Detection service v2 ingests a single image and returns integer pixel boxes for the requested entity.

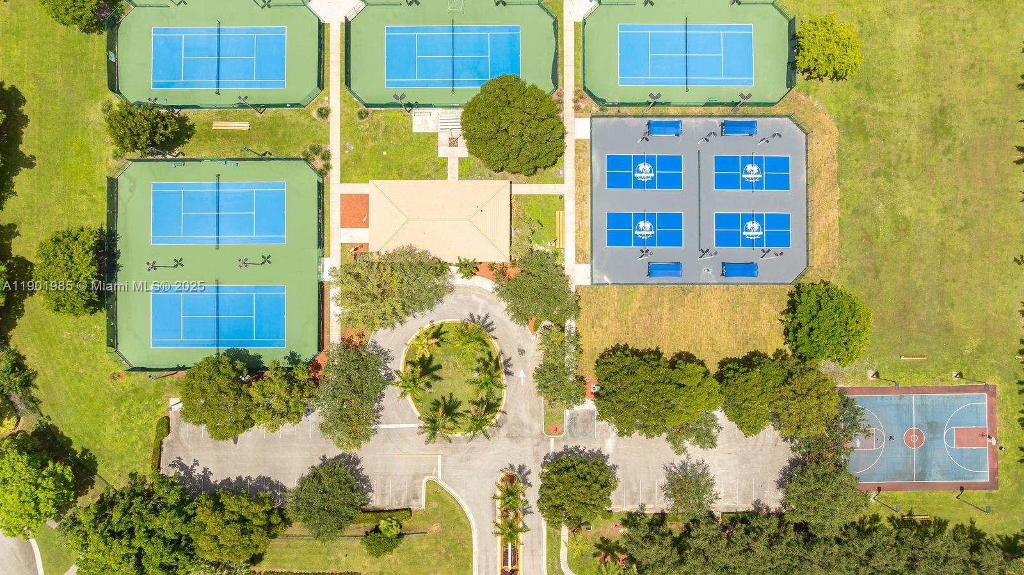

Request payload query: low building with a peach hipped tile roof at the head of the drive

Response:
[368,180,510,262]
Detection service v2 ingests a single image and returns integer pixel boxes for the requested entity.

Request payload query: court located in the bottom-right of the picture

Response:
[832,385,999,491]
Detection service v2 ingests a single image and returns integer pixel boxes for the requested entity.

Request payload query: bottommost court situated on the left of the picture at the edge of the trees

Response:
[117,265,322,370]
